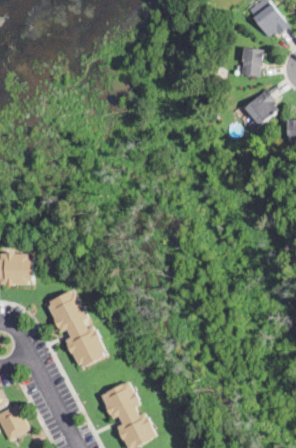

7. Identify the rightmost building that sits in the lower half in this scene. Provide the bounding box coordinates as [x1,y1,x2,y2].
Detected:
[103,380,162,448]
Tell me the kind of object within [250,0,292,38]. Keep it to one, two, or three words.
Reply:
house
